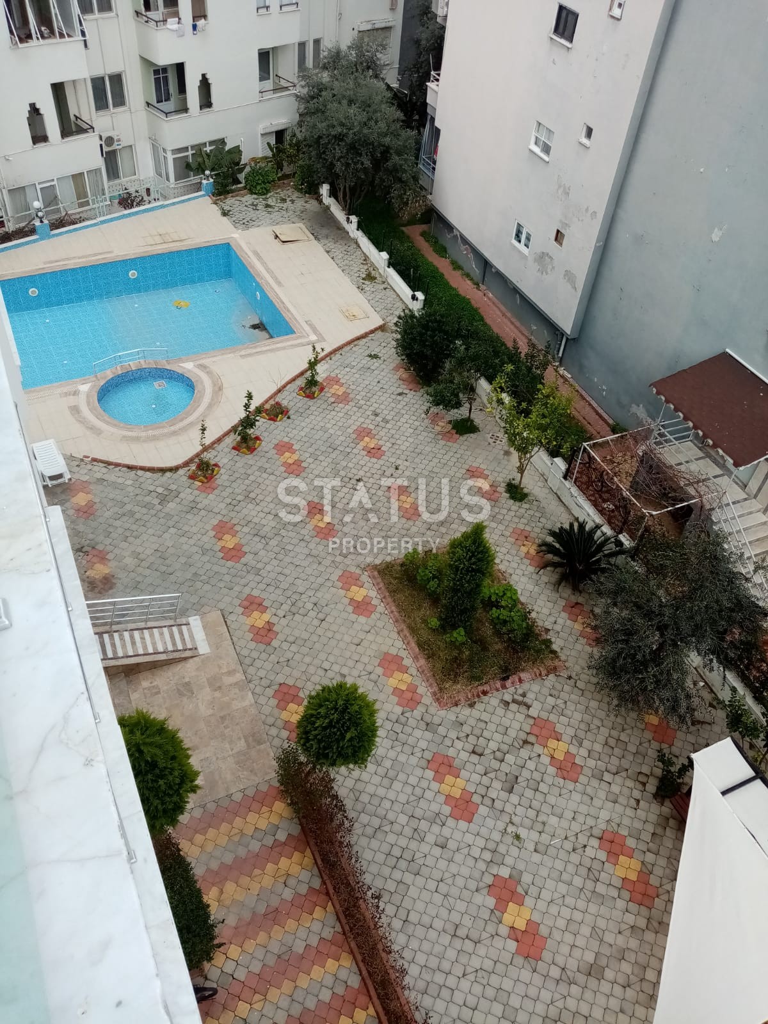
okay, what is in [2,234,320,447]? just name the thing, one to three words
swimming pool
